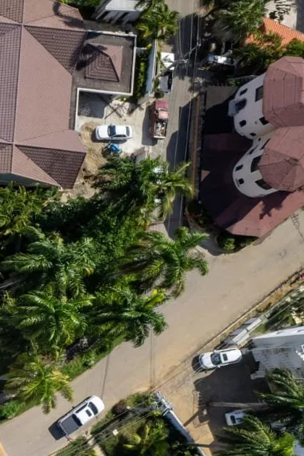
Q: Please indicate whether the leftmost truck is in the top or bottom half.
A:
bottom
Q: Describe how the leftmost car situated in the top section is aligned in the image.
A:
from side to side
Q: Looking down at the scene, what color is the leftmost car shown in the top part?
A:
white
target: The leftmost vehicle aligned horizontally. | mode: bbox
[90,123,132,143]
